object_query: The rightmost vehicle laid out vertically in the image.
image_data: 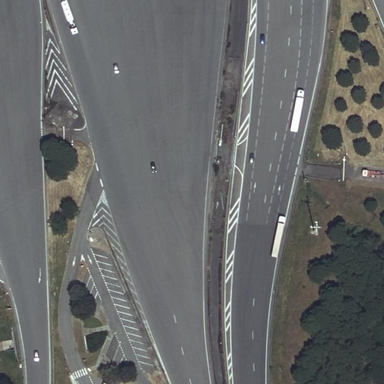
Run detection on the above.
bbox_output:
[292,88,306,132]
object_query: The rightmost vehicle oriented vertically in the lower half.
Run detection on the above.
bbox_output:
[273,214,287,258]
